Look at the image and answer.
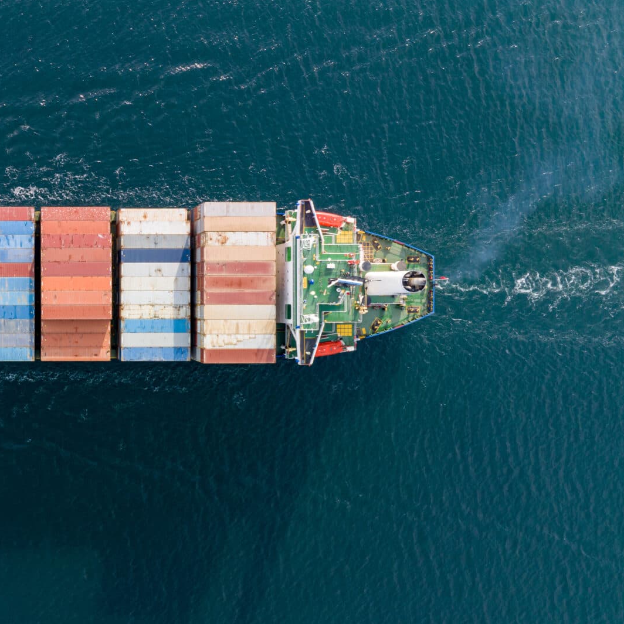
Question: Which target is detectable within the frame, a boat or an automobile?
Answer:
boat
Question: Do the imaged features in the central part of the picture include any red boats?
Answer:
Yes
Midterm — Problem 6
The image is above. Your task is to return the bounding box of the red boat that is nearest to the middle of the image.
[317,341,344,358]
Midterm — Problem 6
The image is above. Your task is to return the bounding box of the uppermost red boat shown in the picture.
[318,212,344,229]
